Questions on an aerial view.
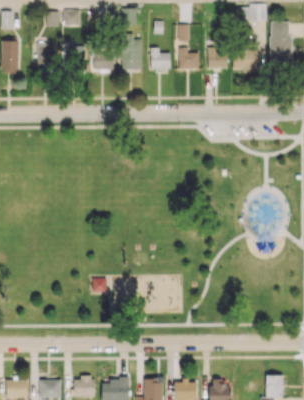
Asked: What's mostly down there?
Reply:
grass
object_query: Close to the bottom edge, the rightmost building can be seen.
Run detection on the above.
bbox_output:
[266,375,284,400]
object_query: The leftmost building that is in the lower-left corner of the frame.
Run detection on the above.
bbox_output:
[6,380,28,400]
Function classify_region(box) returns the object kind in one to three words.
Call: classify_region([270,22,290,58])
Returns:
house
